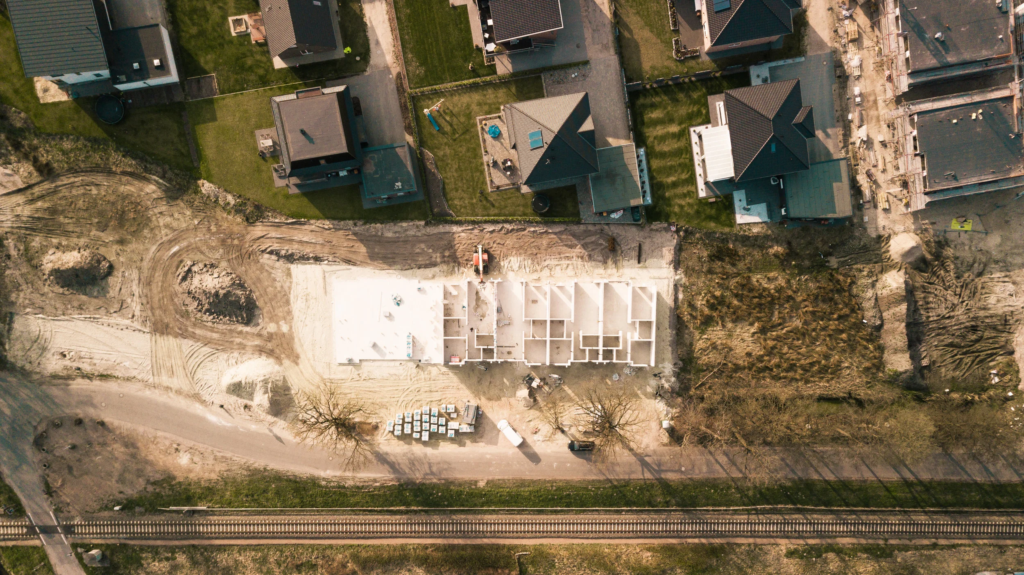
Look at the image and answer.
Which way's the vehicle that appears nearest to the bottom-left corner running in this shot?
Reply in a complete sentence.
The vehicle that appears nearest to the bottom-left corner is laid out on a diagonal.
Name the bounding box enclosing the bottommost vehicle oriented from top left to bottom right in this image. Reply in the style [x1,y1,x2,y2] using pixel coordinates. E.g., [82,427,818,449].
[497,419,524,450]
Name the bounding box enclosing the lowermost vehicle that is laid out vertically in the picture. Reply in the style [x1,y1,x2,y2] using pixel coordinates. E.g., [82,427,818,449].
[473,245,489,290]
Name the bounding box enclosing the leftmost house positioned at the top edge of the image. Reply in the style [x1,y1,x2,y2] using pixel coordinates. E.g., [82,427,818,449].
[4,0,113,87]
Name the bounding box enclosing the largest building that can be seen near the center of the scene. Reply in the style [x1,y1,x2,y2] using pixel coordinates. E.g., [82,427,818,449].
[335,278,657,367]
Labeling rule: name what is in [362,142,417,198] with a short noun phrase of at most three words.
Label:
building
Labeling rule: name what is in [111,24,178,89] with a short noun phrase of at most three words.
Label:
building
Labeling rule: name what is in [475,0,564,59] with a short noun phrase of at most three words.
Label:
house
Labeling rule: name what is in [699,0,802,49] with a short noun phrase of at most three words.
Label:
house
